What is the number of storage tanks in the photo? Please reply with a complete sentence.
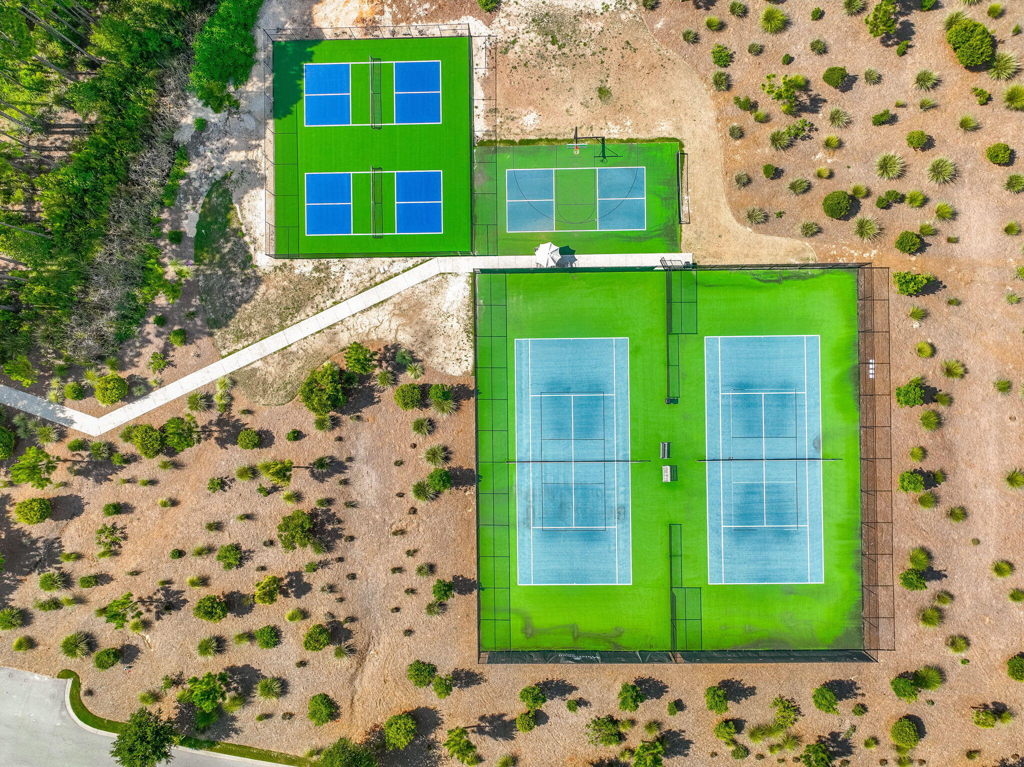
No storage tanks are visible.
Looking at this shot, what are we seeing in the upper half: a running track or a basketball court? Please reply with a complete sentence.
Looking in the upper half, you will find a basketball court.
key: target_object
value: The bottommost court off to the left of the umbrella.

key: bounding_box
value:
[274,146,473,258]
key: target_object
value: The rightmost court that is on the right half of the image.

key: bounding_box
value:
[668,268,863,651]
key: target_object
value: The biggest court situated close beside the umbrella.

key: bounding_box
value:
[477,271,672,652]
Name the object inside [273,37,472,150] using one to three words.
sports court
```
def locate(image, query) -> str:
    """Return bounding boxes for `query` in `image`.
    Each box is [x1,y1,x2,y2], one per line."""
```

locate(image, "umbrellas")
[534,240,562,269]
